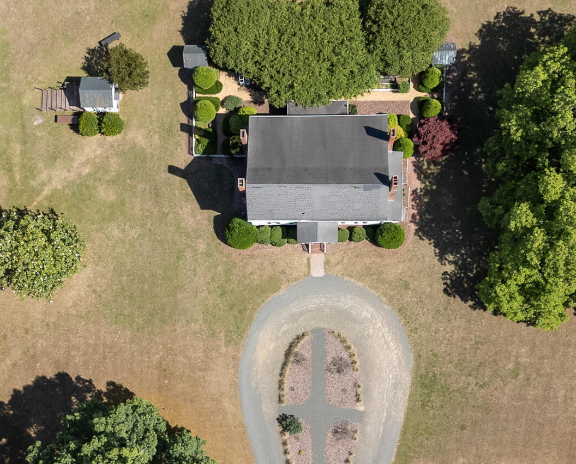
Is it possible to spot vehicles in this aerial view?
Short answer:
No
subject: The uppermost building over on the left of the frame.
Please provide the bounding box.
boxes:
[183,46,209,72]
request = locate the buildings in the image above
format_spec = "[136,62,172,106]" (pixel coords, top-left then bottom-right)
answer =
[77,78,118,111]
[238,100,404,255]
[183,46,209,72]
[431,43,457,70]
